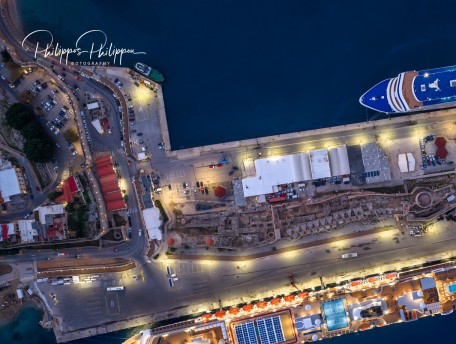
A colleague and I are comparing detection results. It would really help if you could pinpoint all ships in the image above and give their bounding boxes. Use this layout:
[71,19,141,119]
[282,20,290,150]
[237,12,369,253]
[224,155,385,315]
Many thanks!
[123,260,456,344]
[359,65,456,109]
[131,57,165,81]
